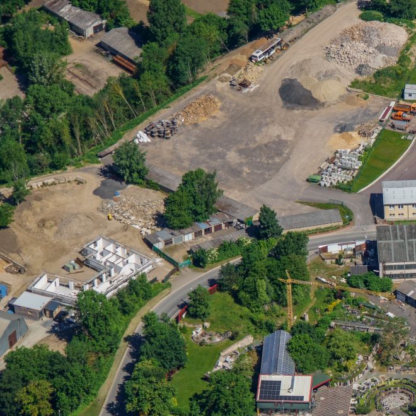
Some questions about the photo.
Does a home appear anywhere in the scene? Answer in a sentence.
Yes, this view includes a home.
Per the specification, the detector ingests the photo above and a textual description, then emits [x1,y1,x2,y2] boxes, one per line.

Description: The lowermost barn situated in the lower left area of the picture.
[0,310,31,357]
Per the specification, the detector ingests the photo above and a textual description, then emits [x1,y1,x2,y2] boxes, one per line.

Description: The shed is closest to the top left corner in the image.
[41,0,105,38]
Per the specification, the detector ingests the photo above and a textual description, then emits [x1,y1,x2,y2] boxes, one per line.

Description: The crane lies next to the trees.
[273,268,394,330]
